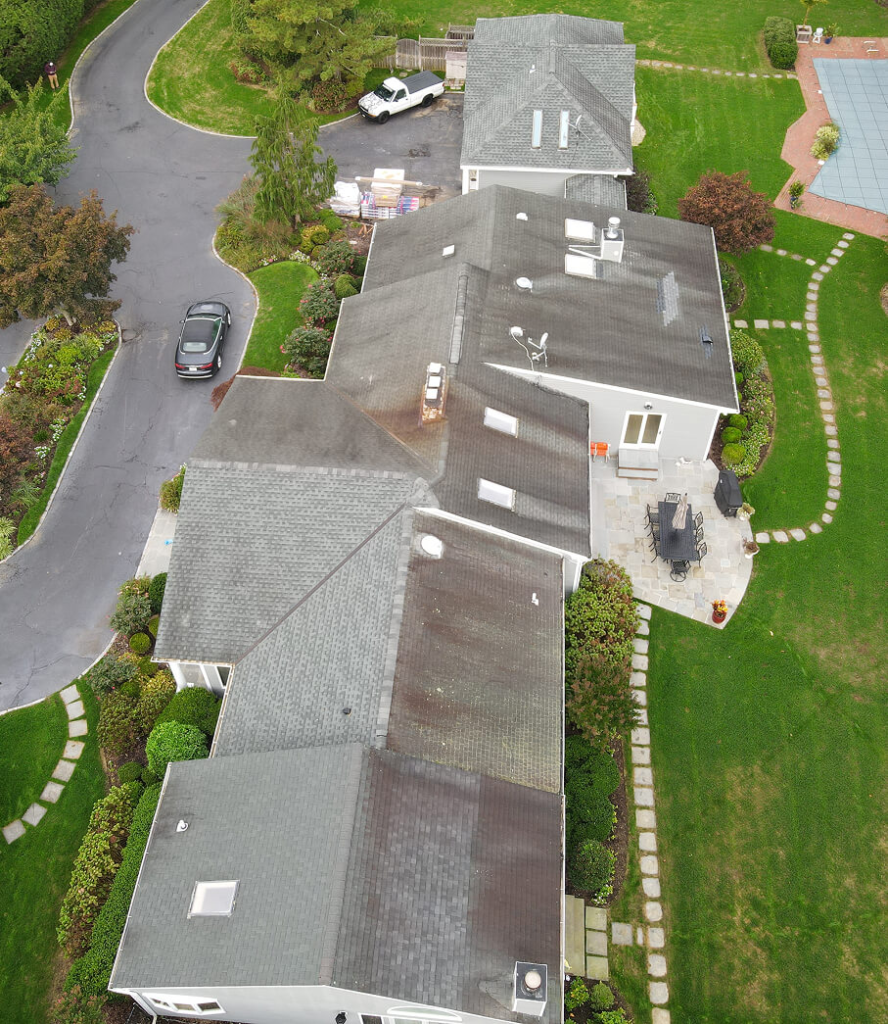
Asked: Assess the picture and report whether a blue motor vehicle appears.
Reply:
No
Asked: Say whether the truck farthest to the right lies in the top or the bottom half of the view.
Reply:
top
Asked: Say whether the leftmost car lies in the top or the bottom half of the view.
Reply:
top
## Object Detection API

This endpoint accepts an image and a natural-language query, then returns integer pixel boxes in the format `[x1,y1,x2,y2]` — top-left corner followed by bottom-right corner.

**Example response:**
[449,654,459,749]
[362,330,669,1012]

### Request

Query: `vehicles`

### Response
[174,293,233,372]
[351,71,445,124]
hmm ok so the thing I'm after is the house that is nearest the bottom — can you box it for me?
[99,186,741,1024]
